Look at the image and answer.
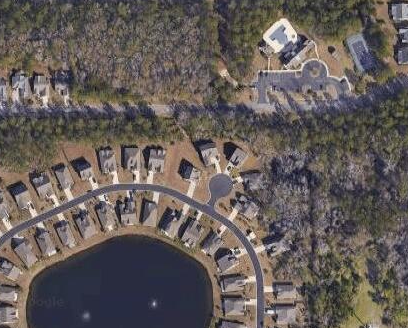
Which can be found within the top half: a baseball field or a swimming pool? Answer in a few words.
swimming pool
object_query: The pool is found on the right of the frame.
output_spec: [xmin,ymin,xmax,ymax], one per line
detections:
[265,20,298,53]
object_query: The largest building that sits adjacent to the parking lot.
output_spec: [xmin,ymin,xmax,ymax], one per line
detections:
[277,34,314,66]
